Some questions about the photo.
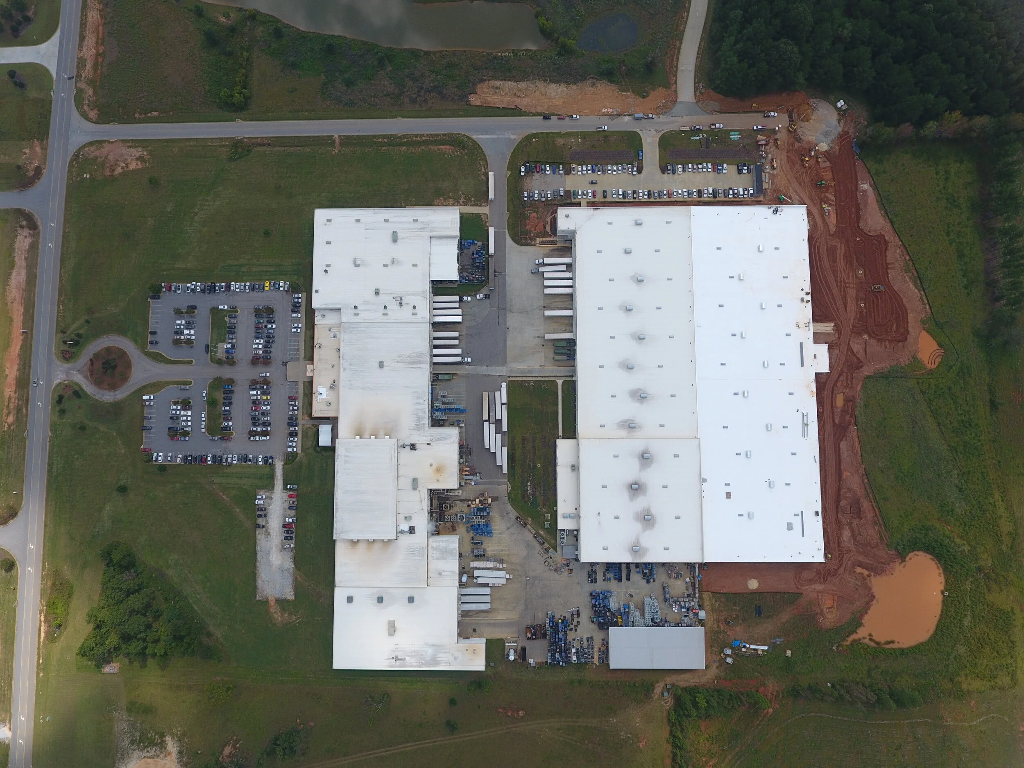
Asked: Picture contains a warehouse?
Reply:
Yes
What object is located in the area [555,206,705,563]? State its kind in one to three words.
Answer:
warehouse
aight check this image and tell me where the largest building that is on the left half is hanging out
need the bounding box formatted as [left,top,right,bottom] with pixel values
[306,207,486,671]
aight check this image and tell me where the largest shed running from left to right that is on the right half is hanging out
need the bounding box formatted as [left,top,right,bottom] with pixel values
[608,624,705,669]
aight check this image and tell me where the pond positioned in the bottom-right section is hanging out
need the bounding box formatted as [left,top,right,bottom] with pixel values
[846,553,944,648]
